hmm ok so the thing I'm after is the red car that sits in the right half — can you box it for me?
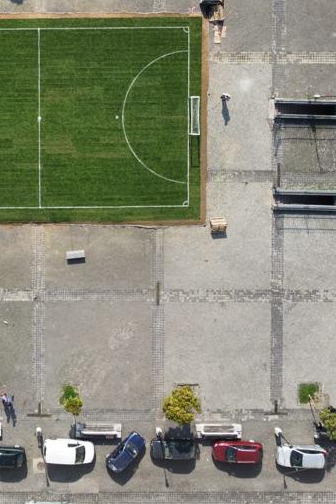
[211,437,263,464]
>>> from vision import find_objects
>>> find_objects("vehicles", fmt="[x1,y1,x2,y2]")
[103,428,146,475]
[273,441,328,469]
[211,437,263,464]
[43,436,93,466]
[147,433,197,460]
[0,442,26,469]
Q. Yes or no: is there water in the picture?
No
